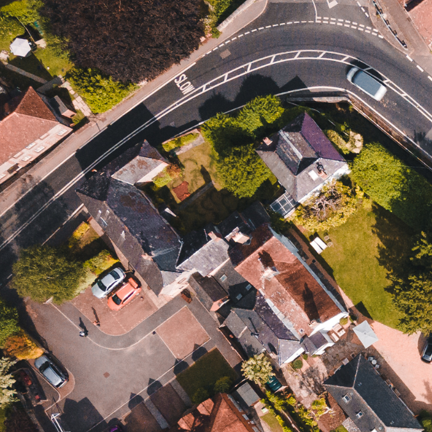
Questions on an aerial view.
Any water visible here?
No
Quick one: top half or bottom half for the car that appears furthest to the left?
bottom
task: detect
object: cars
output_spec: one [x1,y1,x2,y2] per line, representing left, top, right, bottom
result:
[106,279,144,310]
[90,264,133,299]
[35,350,72,393]
[417,331,432,370]
[345,64,388,101]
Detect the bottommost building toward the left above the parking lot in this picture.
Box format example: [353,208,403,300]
[74,135,231,297]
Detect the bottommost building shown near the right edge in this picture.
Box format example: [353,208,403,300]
[323,353,424,432]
